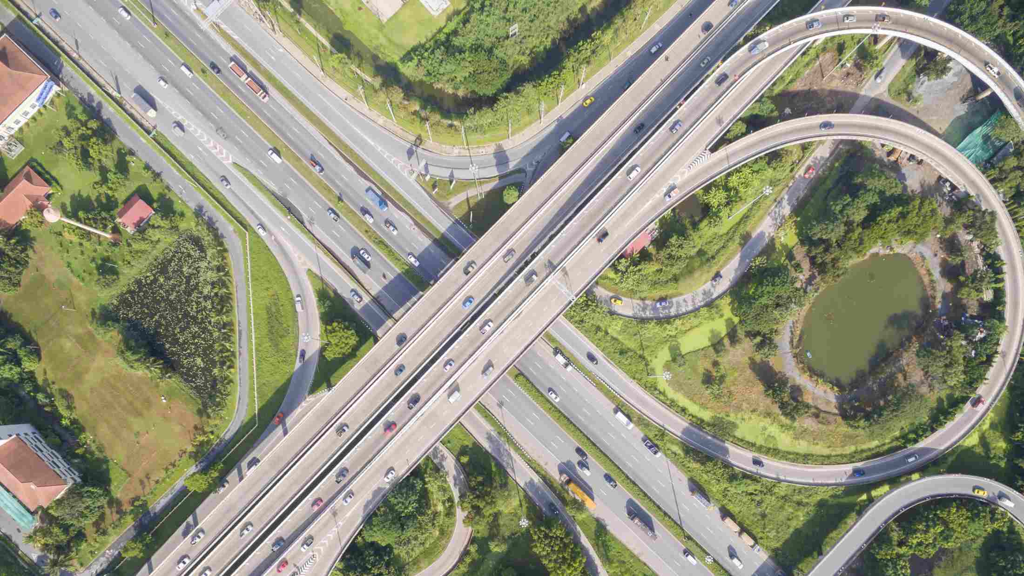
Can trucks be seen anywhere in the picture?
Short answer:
Yes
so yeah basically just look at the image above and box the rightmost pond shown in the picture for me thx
[801,252,926,385]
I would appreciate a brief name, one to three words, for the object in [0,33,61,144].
building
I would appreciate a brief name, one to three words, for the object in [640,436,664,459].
truck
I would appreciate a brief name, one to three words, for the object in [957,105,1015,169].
shed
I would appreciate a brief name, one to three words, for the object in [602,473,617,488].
car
